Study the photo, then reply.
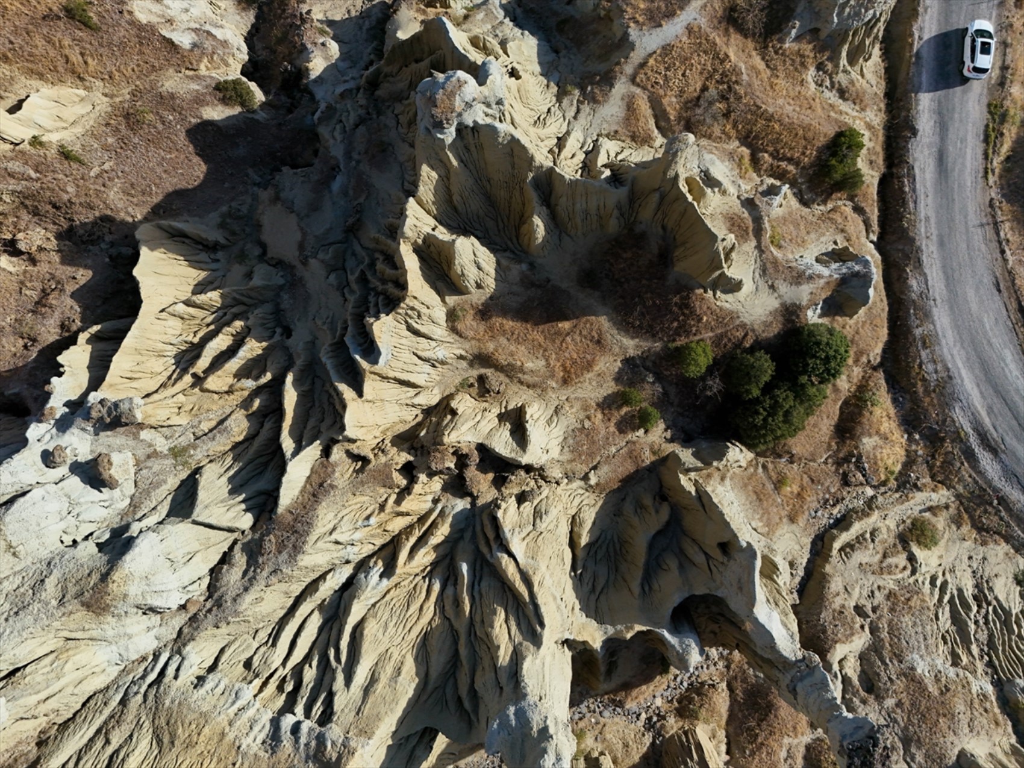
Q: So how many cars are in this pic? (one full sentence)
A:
I count just 1 car.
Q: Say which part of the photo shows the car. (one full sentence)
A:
The car is located in the top right region of the scene.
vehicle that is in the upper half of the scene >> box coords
[958,16,998,78]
